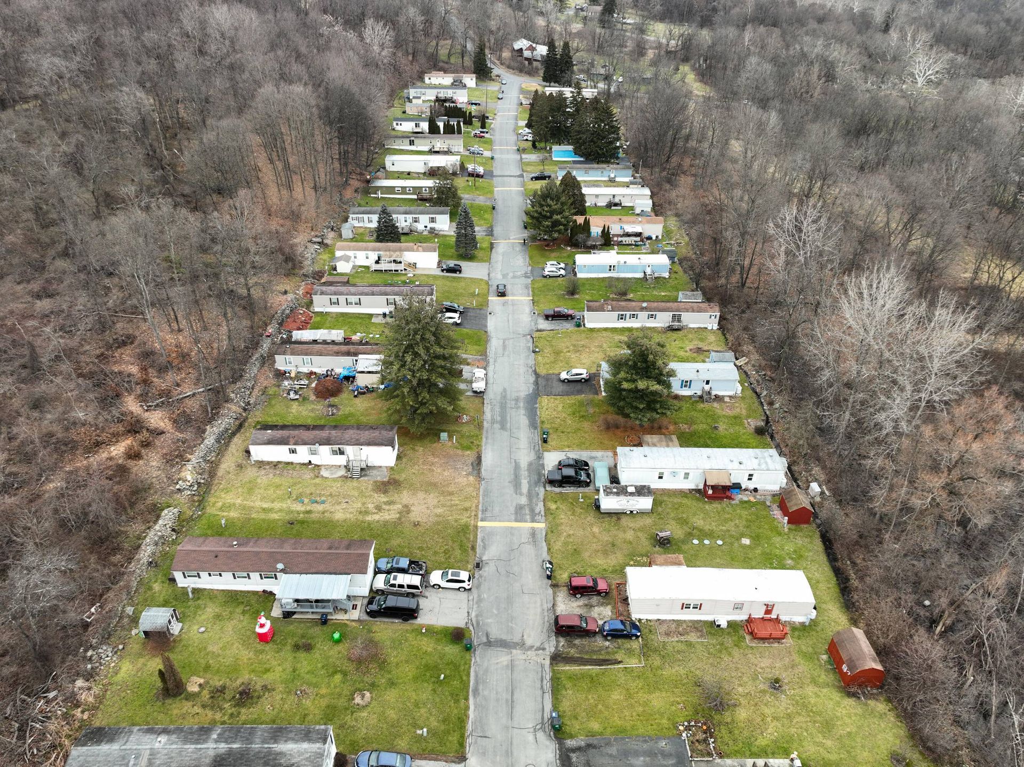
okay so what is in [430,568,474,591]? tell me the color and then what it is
white car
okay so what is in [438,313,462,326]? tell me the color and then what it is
white vehicle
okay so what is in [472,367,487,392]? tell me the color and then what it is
white vehicle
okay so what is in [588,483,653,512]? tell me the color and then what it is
white trailer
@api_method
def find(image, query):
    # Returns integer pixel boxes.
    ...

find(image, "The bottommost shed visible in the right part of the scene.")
[826,624,893,690]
